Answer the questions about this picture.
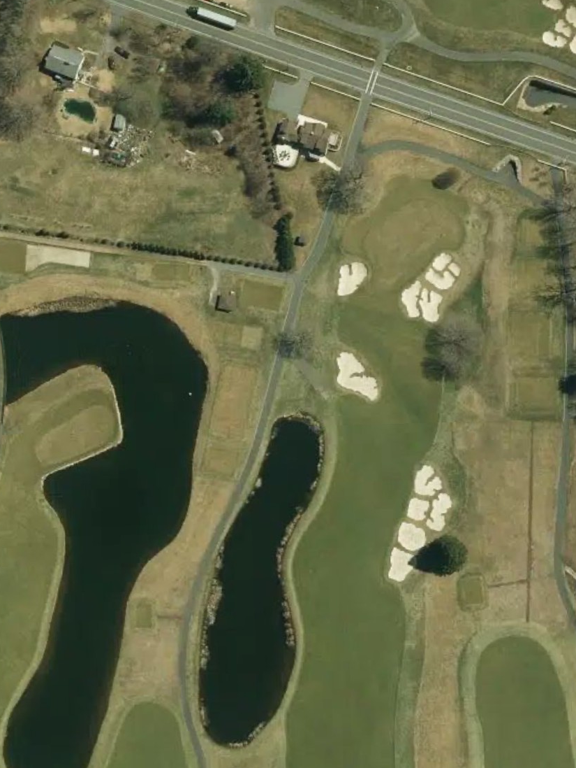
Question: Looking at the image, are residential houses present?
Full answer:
Yes, I can see a residential house in this picture.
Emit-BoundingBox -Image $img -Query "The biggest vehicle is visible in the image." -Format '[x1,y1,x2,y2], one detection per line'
[185,2,236,25]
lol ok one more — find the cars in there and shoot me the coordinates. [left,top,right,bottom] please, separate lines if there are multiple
[108,57,115,69]
[115,47,128,57]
